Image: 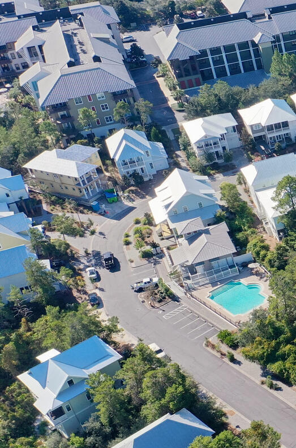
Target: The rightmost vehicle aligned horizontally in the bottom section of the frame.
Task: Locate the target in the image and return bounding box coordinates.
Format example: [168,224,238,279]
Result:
[129,273,160,289]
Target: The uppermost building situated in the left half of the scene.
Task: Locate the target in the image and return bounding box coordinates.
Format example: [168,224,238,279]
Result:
[0,19,146,142]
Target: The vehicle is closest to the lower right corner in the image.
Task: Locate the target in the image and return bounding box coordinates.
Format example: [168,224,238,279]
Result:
[142,335,167,359]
